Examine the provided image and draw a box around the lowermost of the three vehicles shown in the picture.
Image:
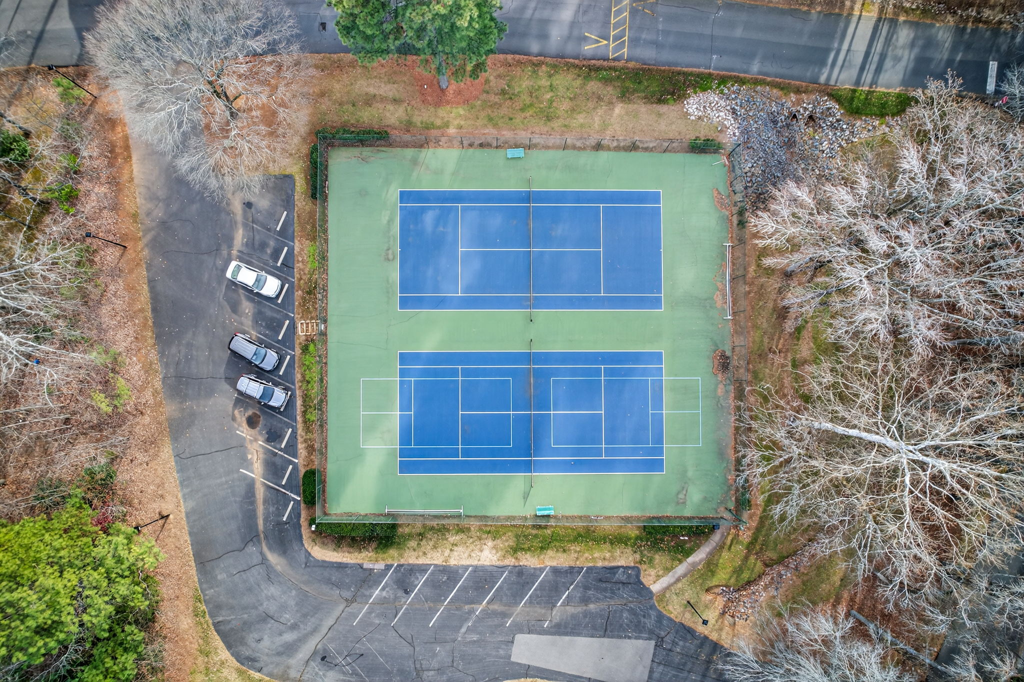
[236,374,289,407]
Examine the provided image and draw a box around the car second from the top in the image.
[229,334,282,372]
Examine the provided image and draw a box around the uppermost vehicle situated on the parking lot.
[227,263,282,298]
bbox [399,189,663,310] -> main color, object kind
blue tennis court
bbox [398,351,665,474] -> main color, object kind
blue tennis court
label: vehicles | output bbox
[236,374,289,407]
[227,263,282,298]
[229,334,282,372]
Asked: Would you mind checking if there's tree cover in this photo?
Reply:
Yes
